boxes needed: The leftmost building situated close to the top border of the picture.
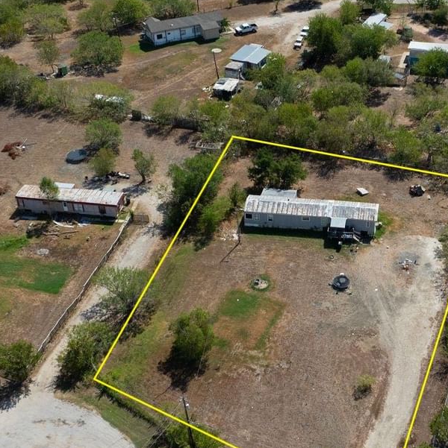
[144,8,220,46]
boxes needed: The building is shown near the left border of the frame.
[15,180,126,220]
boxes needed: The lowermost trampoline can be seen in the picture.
[332,274,350,290]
